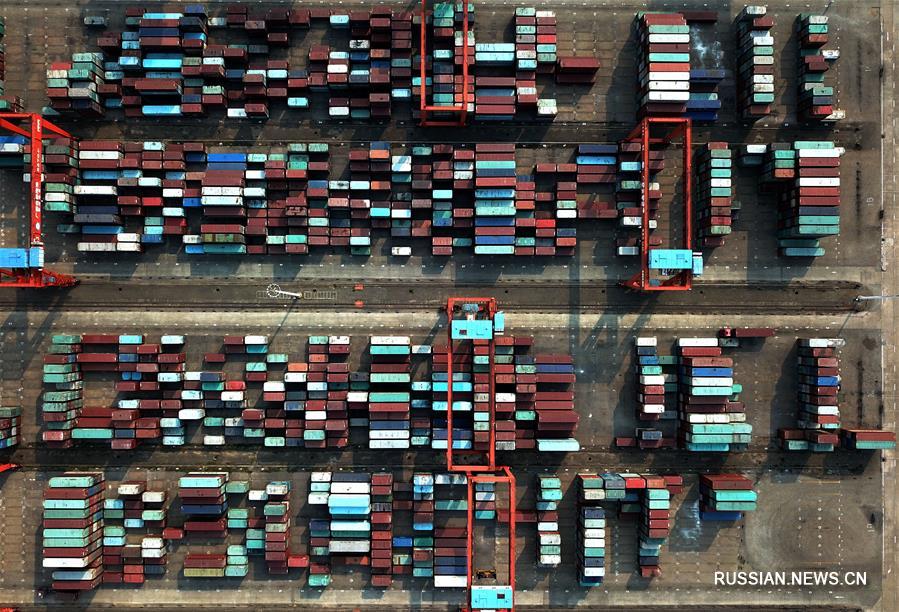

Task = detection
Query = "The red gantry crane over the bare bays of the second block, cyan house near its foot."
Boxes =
[619,116,703,291]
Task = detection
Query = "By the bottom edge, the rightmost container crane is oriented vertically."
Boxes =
[461,464,518,612]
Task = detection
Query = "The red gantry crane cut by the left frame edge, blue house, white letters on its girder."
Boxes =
[0,115,86,288]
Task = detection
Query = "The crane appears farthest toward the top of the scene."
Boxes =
[421,0,470,126]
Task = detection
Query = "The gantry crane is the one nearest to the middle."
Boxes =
[442,298,505,471]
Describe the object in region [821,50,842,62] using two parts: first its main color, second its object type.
white vehicle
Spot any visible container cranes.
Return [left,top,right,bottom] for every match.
[0,115,86,288]
[619,116,703,291]
[461,464,518,612]
[442,298,505,471]
[421,0,470,126]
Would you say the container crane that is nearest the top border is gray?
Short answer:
No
